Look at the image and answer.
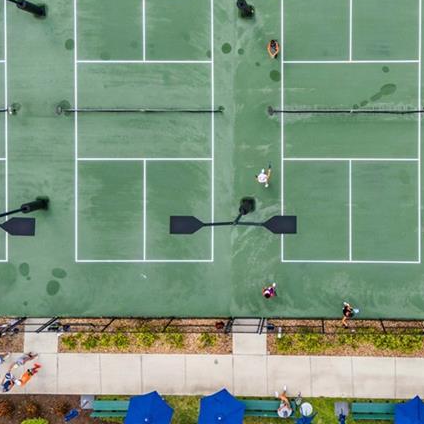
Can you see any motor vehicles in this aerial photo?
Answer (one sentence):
No, no motor vehicle is visible in the scene.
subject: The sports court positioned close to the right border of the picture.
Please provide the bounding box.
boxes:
[282,0,422,263]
